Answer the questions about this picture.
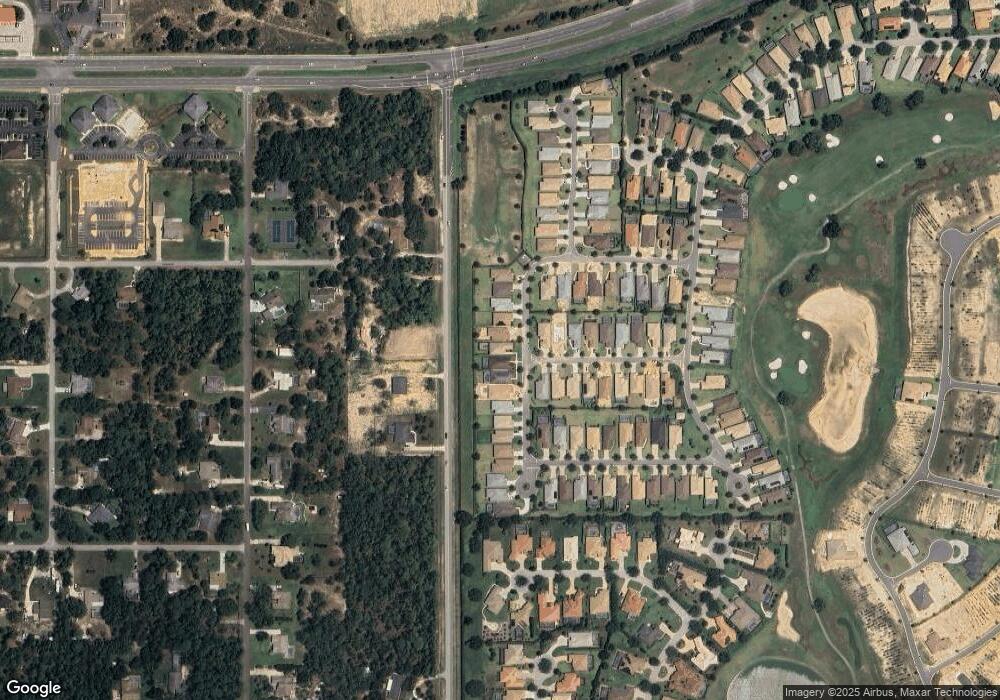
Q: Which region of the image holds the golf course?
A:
right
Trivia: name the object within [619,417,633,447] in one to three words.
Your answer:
house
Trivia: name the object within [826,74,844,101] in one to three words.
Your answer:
house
